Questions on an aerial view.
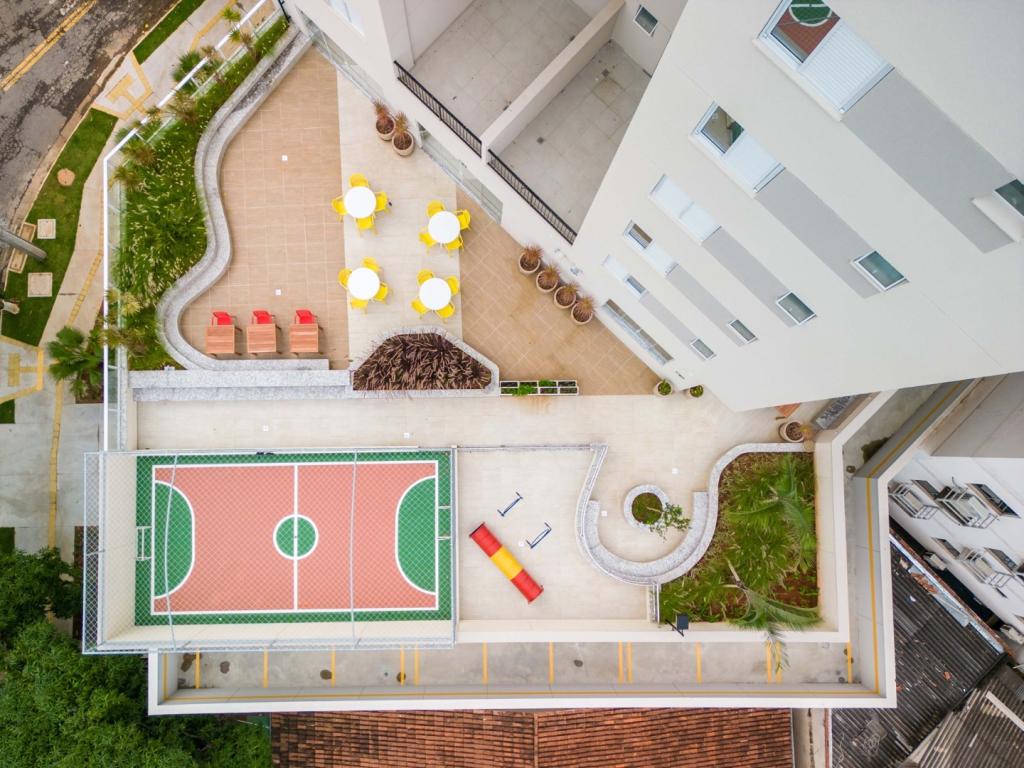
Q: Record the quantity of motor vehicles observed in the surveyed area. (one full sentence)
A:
The picture shows no motor vehicles.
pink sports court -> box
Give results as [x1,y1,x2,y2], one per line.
[135,452,452,626]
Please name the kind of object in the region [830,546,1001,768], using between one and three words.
shed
